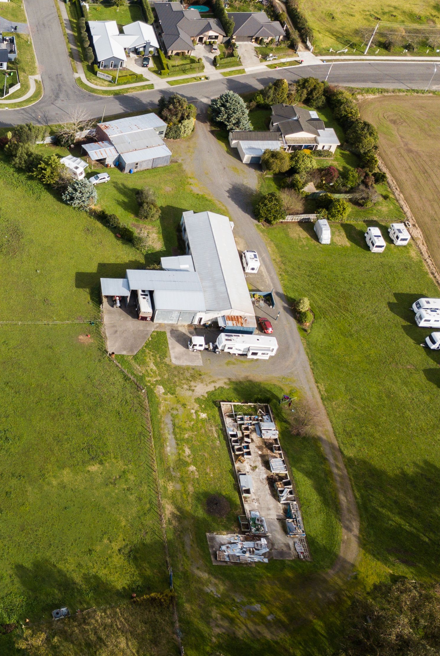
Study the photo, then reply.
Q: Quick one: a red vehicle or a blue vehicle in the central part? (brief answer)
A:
red vehicle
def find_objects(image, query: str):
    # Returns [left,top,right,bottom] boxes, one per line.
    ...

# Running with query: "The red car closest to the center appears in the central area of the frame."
[258,316,276,332]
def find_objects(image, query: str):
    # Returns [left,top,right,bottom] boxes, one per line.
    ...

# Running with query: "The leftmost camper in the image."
[63,151,87,177]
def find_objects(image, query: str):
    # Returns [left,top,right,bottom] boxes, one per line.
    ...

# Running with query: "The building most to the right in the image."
[264,107,340,154]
